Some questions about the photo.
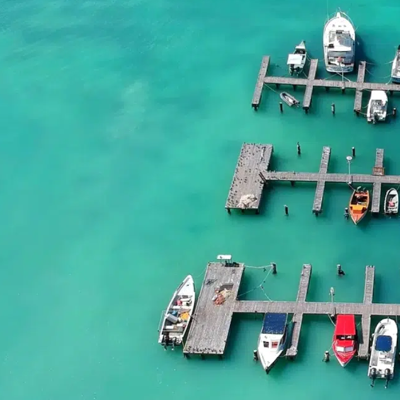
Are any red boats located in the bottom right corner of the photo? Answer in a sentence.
Yes, there is a red boat in the bottom right corner of the photo.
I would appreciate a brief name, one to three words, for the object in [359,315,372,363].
pier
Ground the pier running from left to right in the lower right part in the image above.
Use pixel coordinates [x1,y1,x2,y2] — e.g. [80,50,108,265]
[234,301,400,320]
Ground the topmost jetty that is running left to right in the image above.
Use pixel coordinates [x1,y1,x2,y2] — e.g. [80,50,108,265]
[264,76,400,94]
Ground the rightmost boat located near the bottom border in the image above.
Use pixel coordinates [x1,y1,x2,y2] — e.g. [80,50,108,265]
[370,315,400,388]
